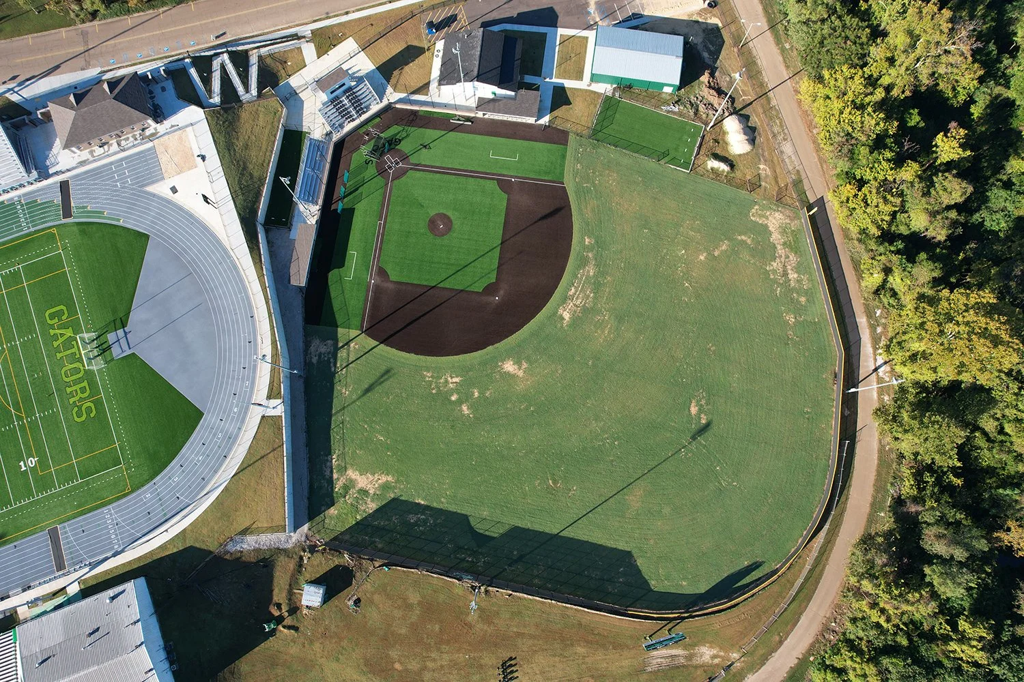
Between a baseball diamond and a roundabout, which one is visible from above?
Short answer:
baseball diamond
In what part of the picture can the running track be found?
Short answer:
left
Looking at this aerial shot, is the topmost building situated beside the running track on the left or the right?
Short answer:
left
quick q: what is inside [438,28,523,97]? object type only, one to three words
building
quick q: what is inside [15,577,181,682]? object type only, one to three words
building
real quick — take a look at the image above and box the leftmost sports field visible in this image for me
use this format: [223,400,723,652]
[0,222,217,549]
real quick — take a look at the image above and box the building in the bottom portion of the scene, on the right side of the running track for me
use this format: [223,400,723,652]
[297,582,330,609]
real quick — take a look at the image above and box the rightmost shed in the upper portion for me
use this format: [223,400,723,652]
[591,25,684,92]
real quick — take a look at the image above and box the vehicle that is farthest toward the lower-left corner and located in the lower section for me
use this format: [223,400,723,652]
[257,620,278,635]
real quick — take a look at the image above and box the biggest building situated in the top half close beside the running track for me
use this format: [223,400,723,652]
[47,71,156,153]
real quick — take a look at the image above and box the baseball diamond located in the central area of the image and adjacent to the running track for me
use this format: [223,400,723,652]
[302,107,838,612]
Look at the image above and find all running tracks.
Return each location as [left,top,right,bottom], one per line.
[0,128,259,593]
